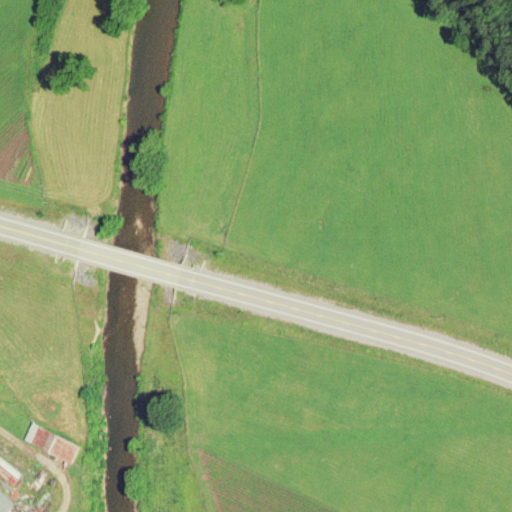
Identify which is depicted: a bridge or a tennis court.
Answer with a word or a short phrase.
bridge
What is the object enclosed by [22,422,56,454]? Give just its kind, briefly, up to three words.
barn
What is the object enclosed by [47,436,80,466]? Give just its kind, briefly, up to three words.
shed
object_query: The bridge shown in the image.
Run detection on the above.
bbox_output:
[78,238,179,287]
